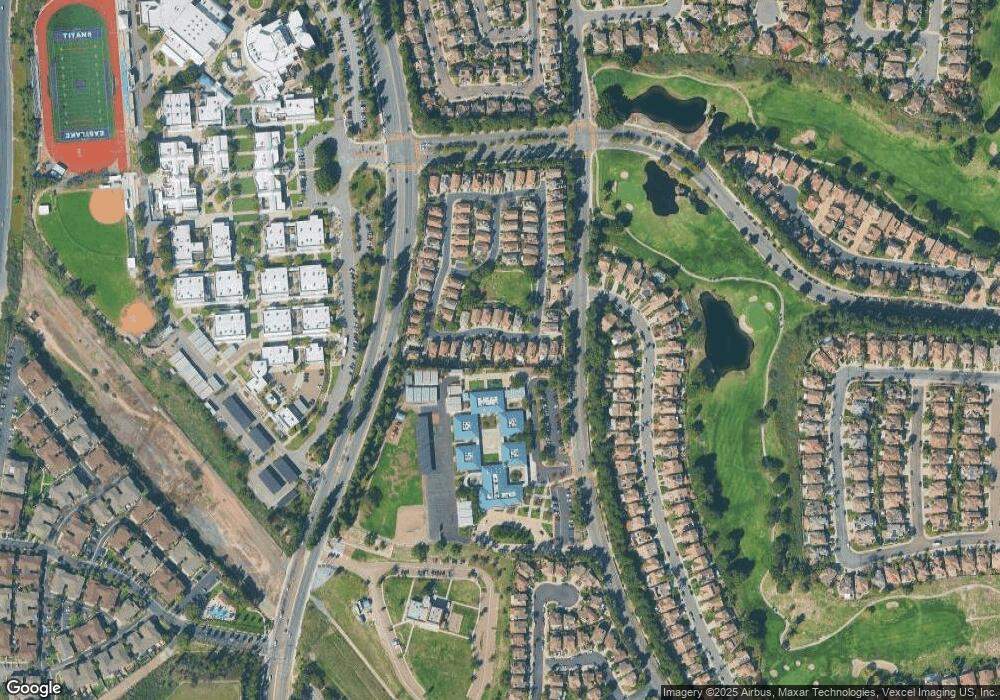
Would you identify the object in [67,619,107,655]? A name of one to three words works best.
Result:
building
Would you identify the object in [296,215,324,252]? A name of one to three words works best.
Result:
building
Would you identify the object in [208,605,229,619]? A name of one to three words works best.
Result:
swimming pool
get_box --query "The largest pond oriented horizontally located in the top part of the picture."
[604,86,706,131]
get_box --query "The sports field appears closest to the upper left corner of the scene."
[48,3,115,142]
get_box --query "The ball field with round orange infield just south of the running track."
[36,188,129,263]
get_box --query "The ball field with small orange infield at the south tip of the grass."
[62,261,155,335]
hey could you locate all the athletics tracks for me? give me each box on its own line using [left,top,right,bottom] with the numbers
[36,0,128,173]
